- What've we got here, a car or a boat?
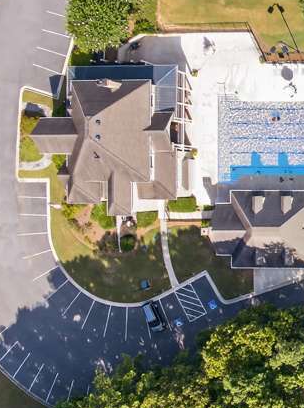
car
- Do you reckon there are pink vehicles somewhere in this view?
No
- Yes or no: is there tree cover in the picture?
Yes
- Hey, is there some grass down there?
Yes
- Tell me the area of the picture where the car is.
bottom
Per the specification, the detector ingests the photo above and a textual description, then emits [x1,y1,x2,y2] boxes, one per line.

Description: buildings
[31,65,194,216]
[210,190,304,268]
